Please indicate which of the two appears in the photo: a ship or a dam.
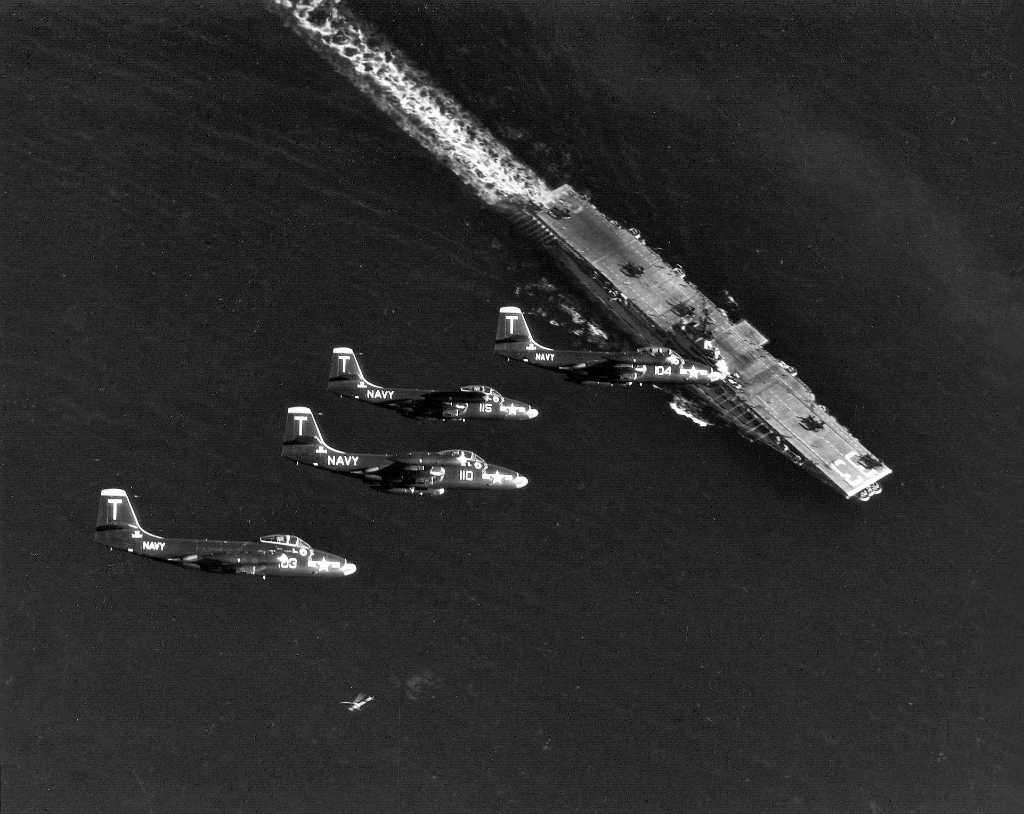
ship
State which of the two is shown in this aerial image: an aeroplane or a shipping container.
aeroplane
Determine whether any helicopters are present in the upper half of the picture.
No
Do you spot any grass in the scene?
No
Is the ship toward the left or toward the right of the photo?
right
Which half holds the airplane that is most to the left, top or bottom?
bottom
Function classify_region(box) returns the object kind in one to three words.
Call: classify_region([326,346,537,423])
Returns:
airplane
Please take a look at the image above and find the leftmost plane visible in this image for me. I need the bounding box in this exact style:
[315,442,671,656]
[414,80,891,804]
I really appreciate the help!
[94,489,356,581]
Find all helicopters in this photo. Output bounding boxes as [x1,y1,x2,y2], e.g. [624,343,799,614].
[343,694,374,718]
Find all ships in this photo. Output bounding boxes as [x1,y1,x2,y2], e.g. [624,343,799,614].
[516,184,892,503]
